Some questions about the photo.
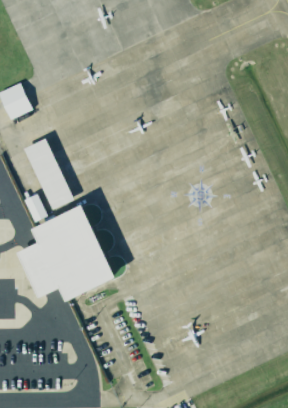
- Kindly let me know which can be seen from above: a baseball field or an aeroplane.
aeroplane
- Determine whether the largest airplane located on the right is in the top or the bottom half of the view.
bottom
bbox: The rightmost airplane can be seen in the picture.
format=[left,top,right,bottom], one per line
[252,170,268,191]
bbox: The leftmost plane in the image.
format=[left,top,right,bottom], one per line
[82,66,102,83]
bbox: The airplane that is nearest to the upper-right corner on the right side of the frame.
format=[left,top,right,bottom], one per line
[218,99,232,120]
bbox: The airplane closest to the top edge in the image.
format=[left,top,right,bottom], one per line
[98,8,113,28]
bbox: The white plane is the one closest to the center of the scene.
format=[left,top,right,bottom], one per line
[128,116,152,134]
